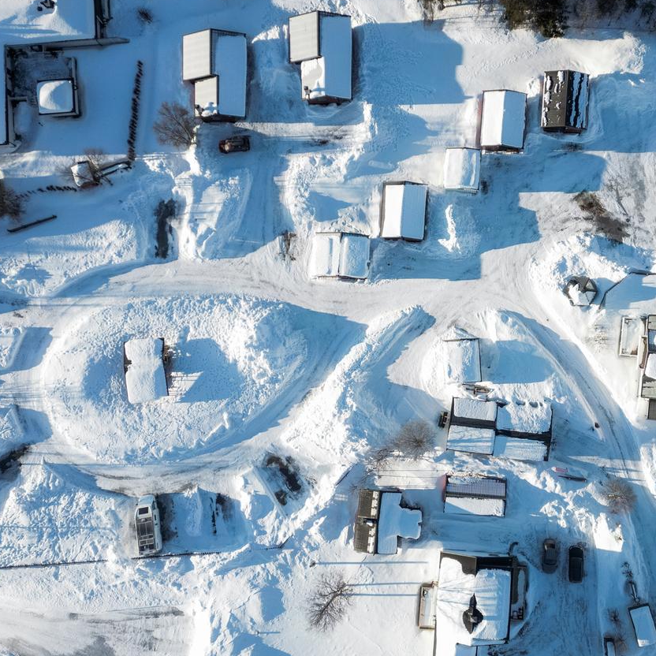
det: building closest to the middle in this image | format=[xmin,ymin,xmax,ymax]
[311,233,370,279]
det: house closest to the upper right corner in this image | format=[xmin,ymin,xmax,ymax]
[541,68,590,133]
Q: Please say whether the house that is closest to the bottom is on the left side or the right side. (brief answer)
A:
right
